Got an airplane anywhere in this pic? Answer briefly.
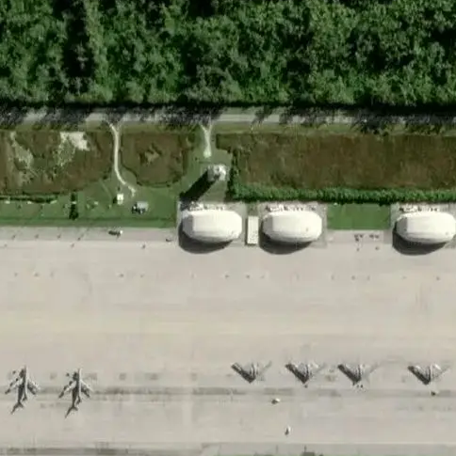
Yes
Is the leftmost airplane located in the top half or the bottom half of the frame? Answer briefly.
bottom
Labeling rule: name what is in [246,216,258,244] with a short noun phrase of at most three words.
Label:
building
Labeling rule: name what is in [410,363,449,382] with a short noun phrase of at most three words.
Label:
airplane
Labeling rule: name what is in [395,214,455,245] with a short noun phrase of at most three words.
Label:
hangar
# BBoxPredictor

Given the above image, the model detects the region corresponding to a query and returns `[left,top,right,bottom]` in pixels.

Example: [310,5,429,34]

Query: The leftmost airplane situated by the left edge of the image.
[10,367,43,399]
